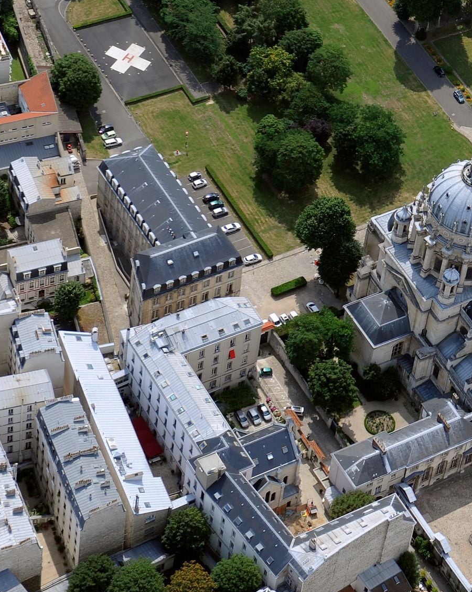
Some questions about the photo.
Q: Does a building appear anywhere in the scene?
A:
Yes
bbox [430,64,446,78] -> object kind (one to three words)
vehicle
